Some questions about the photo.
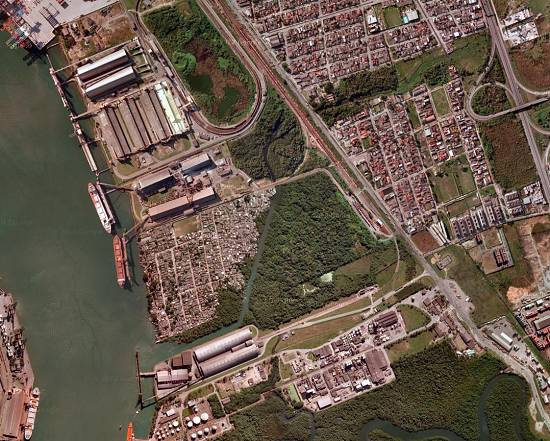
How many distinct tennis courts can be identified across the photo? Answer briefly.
0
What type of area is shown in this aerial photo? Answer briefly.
port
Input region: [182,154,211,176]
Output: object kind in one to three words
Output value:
shed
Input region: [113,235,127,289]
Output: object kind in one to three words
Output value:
ship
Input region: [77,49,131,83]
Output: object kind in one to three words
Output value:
shed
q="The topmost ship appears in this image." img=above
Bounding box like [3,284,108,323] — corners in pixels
[86,182,113,234]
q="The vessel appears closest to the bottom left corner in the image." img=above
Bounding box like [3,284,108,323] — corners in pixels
[25,387,39,440]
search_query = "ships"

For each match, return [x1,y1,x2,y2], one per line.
[25,387,39,440]
[113,235,127,289]
[126,421,133,441]
[86,182,113,234]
